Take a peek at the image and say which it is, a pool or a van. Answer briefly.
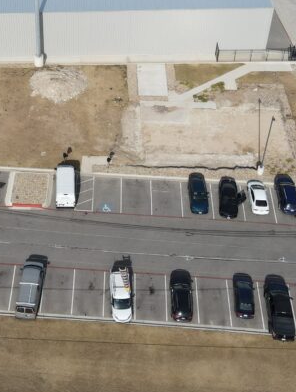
van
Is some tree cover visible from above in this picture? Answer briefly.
No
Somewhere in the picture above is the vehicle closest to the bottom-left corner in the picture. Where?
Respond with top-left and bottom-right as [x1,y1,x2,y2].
[17,260,46,317]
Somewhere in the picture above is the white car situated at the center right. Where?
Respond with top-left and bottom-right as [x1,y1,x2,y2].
[245,177,269,215]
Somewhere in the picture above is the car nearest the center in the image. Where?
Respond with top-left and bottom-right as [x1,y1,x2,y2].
[188,174,211,214]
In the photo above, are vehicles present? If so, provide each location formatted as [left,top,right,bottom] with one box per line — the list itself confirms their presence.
[274,175,296,215]
[55,163,79,208]
[217,178,247,218]
[262,278,296,341]
[188,174,211,214]
[245,177,269,215]
[17,260,46,317]
[110,264,136,322]
[229,271,255,318]
[168,272,194,321]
